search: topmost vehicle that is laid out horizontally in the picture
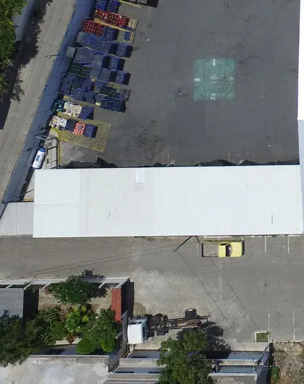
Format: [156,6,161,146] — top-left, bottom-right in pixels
[202,240,245,258]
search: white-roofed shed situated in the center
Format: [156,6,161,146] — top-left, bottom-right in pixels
[34,157,304,237]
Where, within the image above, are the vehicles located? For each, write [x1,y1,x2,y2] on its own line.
[202,240,245,258]
[28,141,50,173]
[130,310,214,349]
